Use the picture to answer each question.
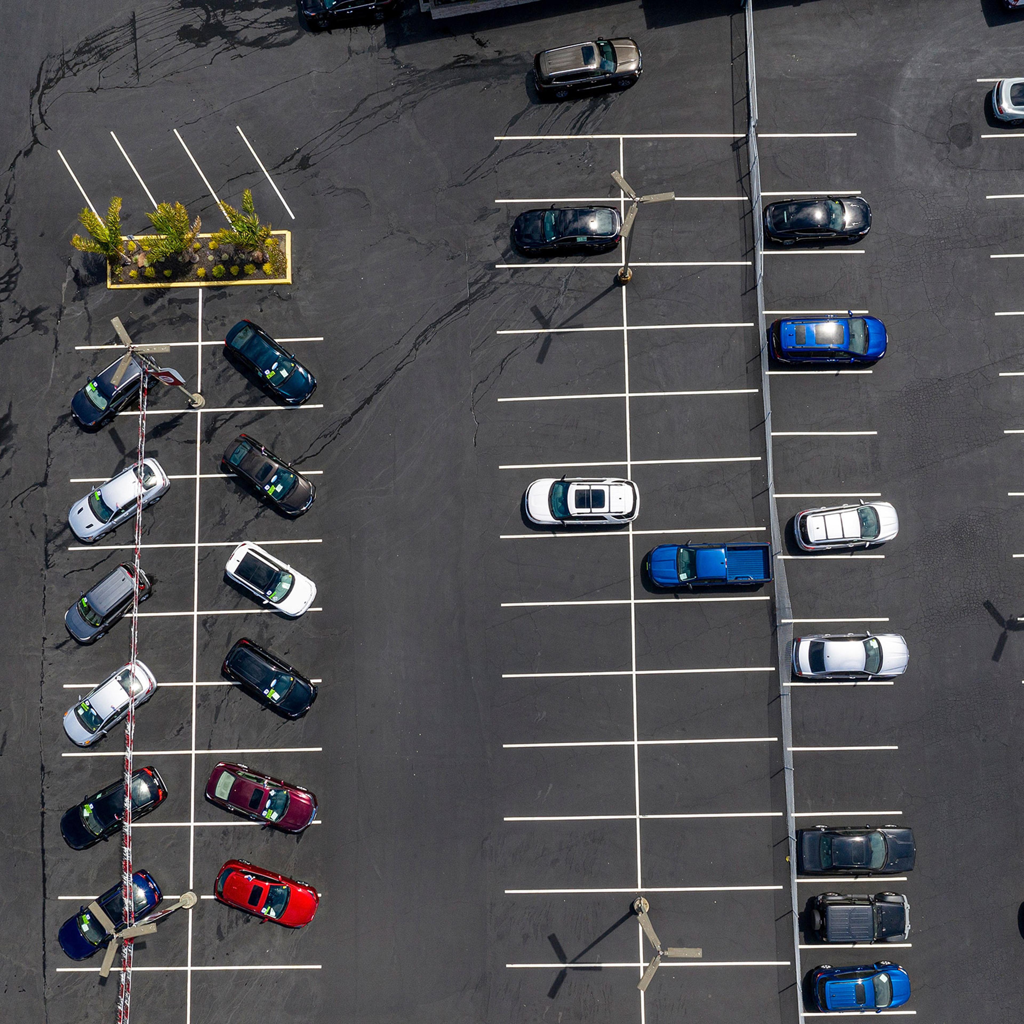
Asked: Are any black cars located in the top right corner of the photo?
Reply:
Yes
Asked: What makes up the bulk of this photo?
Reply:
paved ground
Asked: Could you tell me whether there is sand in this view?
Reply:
No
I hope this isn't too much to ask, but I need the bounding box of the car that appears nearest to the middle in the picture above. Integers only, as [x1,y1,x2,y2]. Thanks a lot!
[525,471,640,526]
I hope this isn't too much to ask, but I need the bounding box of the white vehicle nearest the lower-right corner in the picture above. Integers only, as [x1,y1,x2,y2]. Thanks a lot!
[793,628,908,683]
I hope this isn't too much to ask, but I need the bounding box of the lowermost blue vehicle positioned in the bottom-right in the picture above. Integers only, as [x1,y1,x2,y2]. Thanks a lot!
[814,961,911,1019]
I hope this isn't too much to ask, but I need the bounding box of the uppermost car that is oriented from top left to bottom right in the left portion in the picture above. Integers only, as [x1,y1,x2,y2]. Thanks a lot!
[223,317,316,405]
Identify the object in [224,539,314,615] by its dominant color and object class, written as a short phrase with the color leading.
white car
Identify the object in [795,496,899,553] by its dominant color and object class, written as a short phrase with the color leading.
white car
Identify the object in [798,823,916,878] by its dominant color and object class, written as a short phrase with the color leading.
black car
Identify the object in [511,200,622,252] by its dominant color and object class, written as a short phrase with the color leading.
black car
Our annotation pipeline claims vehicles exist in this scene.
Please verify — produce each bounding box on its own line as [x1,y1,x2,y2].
[770,308,889,364]
[205,760,315,835]
[218,638,315,720]
[533,35,643,99]
[525,471,640,526]
[224,539,314,615]
[73,350,161,430]
[793,628,908,683]
[220,435,313,515]
[764,188,871,241]
[814,961,911,1019]
[798,823,916,878]
[511,200,622,252]
[223,317,316,405]
[648,537,774,591]
[69,457,171,540]
[68,662,159,743]
[811,894,913,946]
[296,0,401,27]
[66,560,153,641]
[992,80,1024,128]
[795,496,899,553]
[213,858,315,928]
